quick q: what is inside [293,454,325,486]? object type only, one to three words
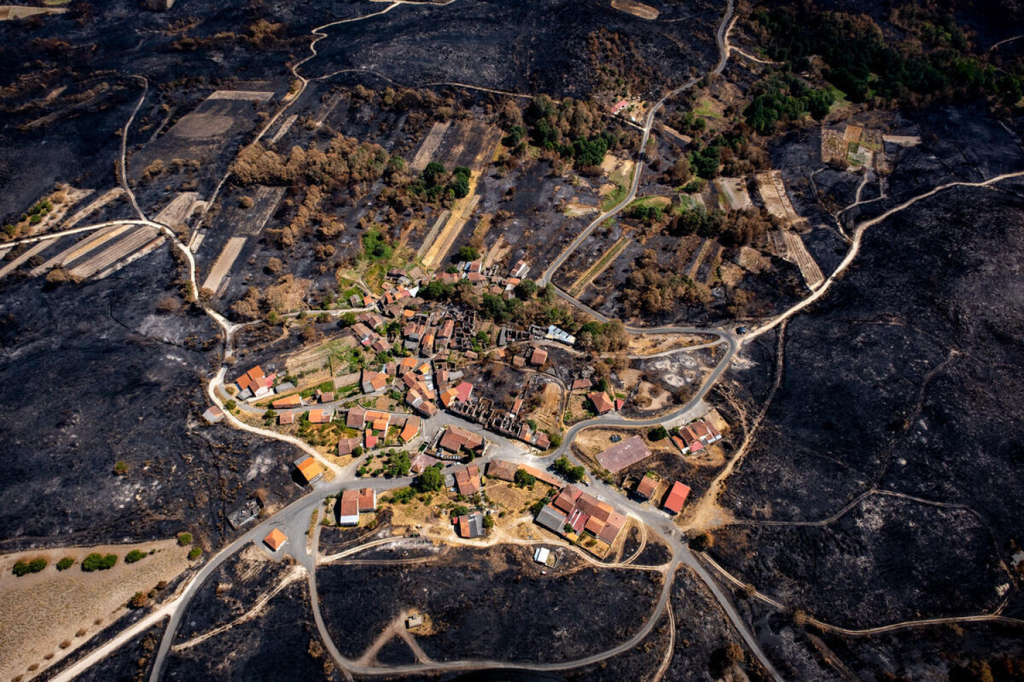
house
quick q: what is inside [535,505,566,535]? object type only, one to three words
barn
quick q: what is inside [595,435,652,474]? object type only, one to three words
sports court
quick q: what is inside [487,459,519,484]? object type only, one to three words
building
